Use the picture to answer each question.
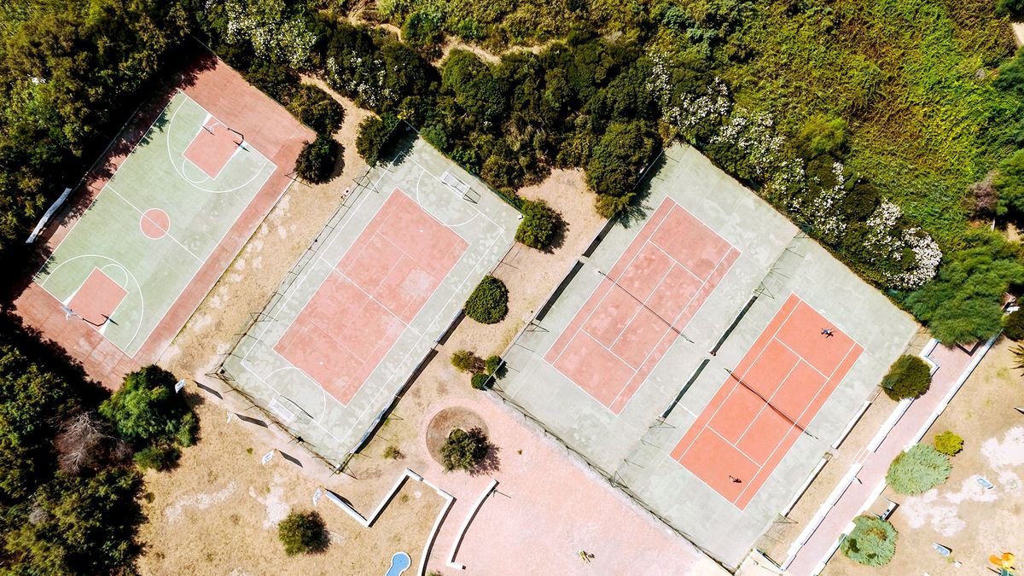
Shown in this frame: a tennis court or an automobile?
tennis court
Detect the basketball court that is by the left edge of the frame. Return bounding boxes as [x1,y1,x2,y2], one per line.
[0,41,315,393]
